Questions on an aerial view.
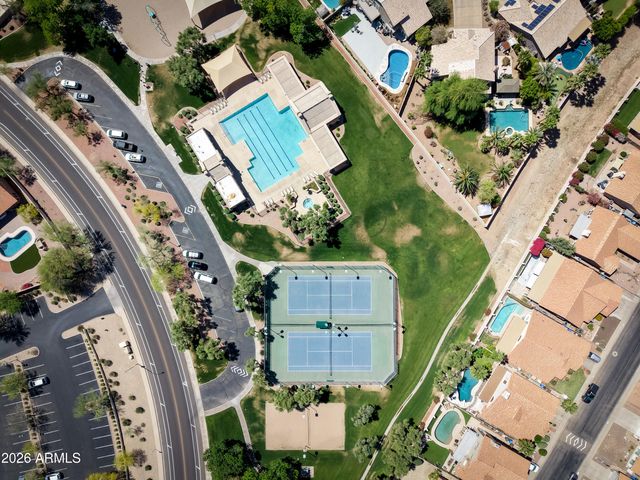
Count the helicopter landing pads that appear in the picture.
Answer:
none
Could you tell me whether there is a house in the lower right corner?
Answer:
Yes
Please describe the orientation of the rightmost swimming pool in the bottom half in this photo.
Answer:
on a diagonal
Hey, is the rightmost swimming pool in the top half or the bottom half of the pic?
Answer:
top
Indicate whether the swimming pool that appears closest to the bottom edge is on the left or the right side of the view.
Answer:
right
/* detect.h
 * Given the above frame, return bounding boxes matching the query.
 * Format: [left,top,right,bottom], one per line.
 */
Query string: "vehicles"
[587,351,601,362]
[115,141,136,151]
[184,250,202,258]
[196,273,214,283]
[46,472,64,480]
[108,130,126,139]
[61,80,79,89]
[582,382,599,403]
[30,378,49,388]
[528,462,541,473]
[127,152,144,161]
[189,261,207,269]
[569,472,580,480]
[74,93,92,102]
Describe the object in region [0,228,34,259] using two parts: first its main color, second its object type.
blue swimming pool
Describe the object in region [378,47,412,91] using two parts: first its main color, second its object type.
blue swimming pool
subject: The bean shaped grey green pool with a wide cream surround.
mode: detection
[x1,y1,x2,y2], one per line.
[434,410,460,445]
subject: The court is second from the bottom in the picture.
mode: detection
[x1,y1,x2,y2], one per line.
[267,325,394,384]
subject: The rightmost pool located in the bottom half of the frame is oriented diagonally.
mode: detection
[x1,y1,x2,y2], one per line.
[489,298,518,334]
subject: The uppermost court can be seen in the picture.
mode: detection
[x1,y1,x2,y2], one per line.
[267,266,394,325]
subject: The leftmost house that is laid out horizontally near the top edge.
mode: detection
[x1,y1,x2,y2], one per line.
[356,0,431,34]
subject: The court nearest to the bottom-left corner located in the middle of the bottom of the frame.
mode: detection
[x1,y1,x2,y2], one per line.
[265,402,346,452]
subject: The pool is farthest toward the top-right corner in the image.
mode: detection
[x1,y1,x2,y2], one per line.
[560,38,596,72]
